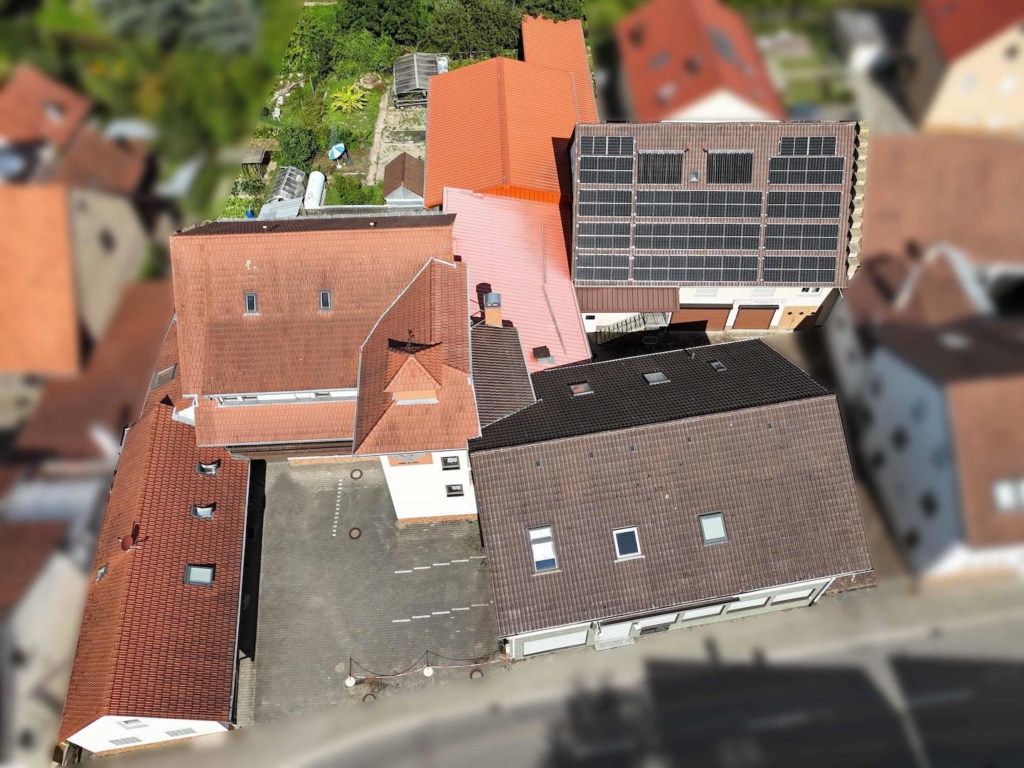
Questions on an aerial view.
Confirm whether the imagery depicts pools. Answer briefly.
No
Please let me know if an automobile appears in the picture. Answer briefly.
No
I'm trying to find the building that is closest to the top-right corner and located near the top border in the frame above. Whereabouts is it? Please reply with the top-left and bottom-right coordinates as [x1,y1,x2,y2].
[894,0,1024,106]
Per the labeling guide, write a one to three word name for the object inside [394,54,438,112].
greenhouse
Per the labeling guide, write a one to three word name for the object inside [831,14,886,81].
building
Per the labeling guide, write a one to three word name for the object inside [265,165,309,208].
greenhouse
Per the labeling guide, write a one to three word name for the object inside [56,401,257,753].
house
